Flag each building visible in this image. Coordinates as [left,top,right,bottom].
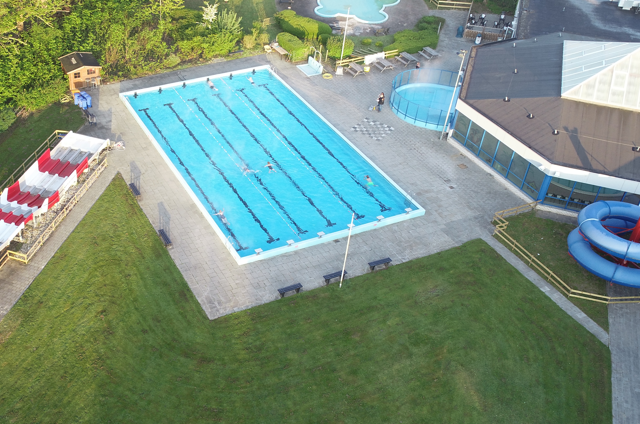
[58,50,104,90]
[449,30,640,226]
